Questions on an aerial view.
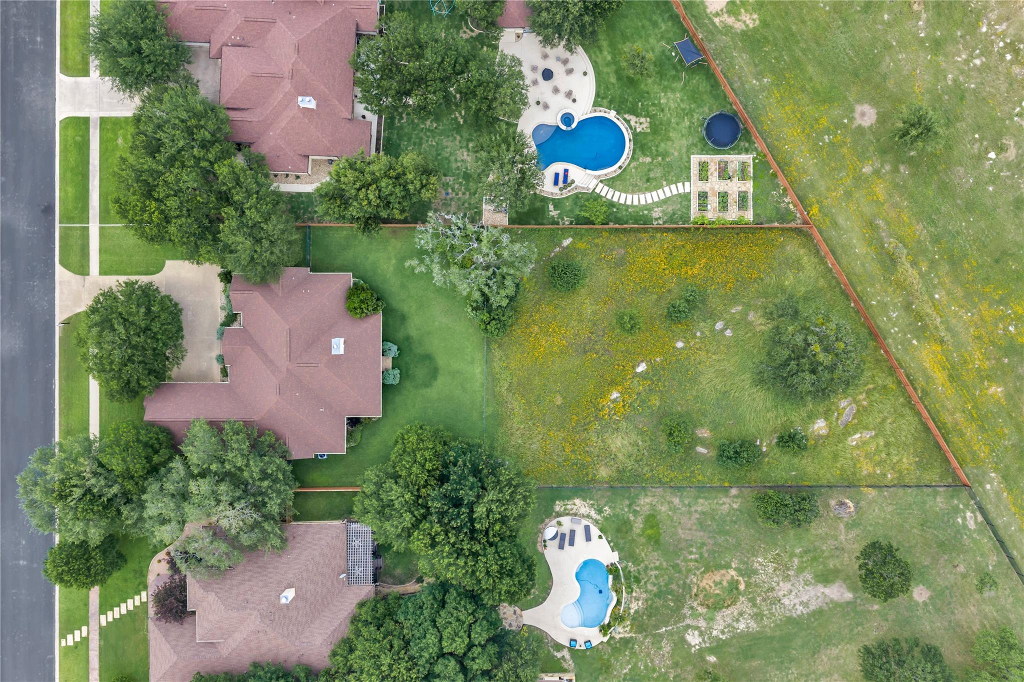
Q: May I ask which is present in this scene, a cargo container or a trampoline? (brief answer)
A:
trampoline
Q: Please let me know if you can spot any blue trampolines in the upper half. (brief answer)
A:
Yes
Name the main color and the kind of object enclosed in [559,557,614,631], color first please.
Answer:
blue swimming pool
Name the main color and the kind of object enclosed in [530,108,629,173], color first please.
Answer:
blue swimming pool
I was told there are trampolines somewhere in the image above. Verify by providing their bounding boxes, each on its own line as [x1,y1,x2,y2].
[696,107,744,149]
